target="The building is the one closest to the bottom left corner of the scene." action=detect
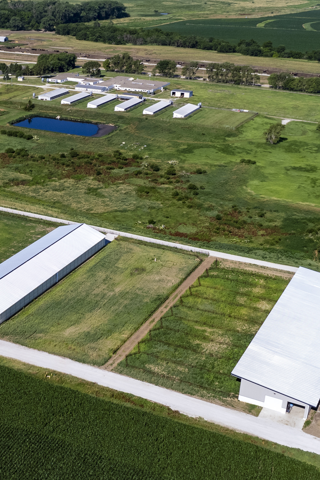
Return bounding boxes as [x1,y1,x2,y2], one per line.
[0,222,107,325]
